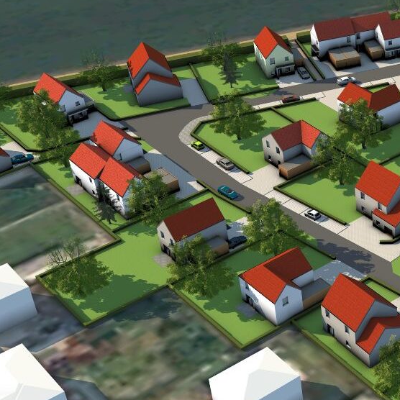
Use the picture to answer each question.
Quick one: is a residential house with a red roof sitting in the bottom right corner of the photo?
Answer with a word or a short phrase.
Yes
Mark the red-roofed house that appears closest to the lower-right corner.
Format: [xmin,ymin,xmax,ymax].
[321,274,400,365]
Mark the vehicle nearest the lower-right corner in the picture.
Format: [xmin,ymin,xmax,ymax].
[303,209,322,221]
